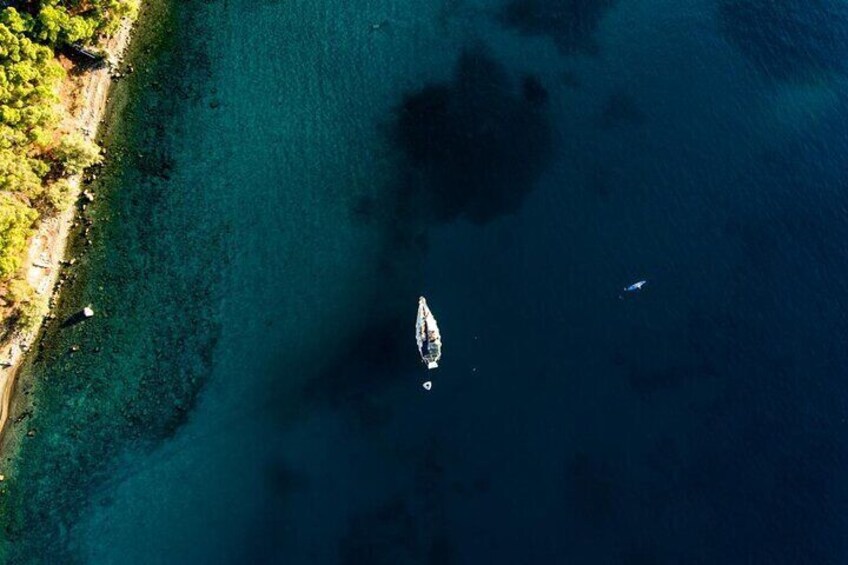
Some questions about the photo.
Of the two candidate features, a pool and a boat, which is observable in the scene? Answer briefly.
boat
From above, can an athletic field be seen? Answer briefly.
No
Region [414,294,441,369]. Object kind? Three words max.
boat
